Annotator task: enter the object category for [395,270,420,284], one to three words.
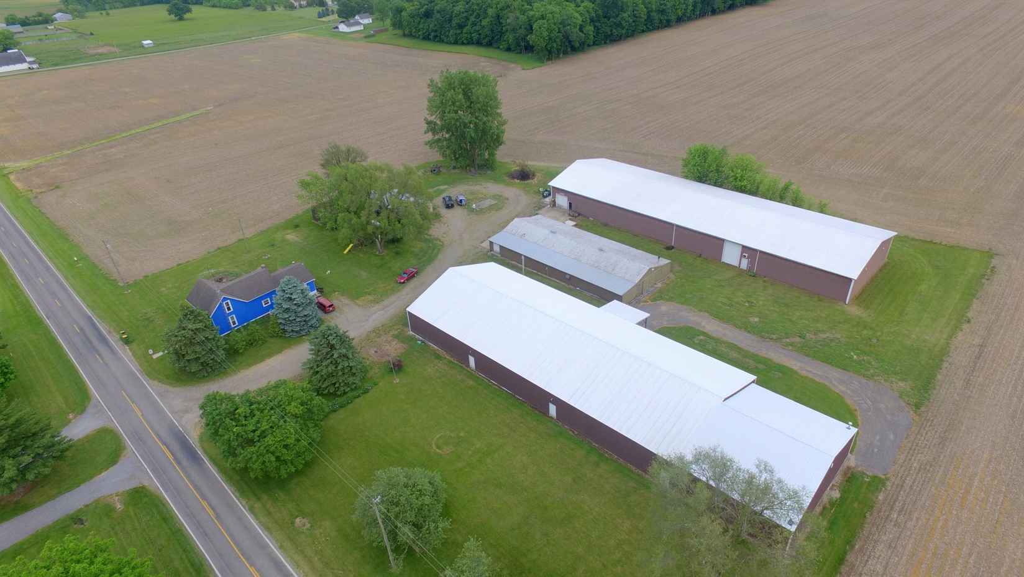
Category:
car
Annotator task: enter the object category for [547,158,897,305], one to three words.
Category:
barn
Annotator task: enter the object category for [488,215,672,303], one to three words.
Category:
shed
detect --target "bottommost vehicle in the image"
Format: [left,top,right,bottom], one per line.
[314,296,336,312]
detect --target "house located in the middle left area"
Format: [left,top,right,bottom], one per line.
[187,262,332,334]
